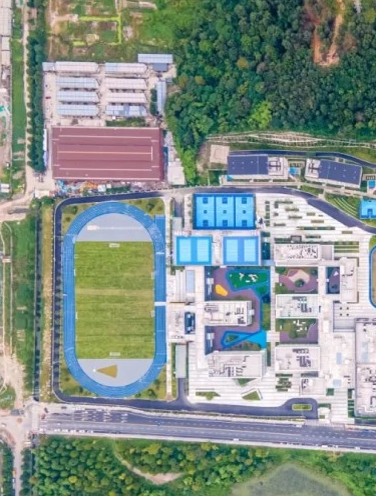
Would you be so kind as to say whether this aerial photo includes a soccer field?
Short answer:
Yes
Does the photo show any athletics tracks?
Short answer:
Yes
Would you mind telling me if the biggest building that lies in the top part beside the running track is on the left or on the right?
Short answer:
left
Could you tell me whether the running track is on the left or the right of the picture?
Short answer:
left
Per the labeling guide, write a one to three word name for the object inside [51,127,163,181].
building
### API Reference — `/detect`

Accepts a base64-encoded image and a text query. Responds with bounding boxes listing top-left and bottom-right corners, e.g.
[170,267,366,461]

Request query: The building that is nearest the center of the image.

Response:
[174,268,195,302]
